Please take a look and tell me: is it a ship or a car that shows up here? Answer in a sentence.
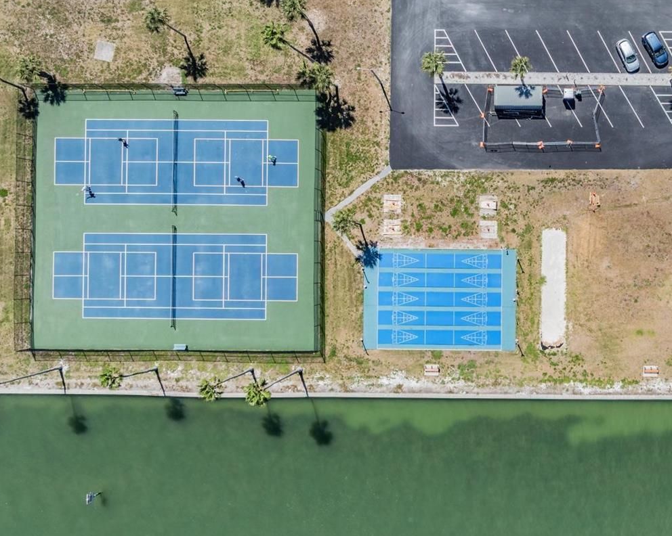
Of the two, only a car appears.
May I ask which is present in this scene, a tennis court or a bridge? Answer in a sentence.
I can see a tennis court in this picture.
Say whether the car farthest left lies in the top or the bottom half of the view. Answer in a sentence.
The top half of the photo is where the car farthest left is.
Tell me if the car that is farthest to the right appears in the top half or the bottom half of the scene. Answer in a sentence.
The top half of the photo is where the car that is farthest to the right is.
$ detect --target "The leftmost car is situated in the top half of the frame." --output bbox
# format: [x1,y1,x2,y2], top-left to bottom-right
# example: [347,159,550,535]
[616,35,640,72]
